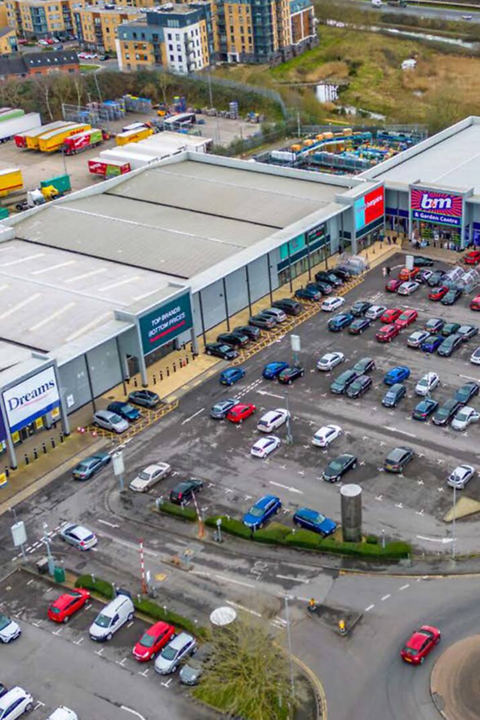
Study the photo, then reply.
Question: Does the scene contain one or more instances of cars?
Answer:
Yes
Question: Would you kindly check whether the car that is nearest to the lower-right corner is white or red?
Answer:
red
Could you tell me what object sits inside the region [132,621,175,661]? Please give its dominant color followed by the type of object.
red car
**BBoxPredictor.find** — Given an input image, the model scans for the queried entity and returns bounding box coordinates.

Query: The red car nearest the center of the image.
[226,403,256,424]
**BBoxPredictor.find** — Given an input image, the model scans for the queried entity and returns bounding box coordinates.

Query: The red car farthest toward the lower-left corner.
[46,587,93,625]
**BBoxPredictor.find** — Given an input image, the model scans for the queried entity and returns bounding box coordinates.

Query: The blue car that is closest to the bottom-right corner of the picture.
[292,505,339,536]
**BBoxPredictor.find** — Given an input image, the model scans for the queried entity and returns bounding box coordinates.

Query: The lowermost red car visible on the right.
[400,625,441,667]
